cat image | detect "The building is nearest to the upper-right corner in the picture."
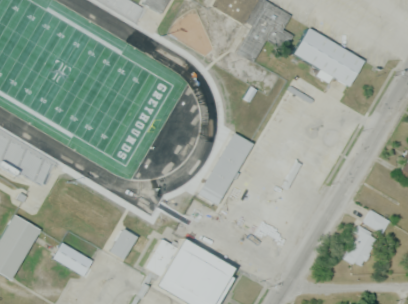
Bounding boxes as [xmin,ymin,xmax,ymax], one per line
[292,28,365,86]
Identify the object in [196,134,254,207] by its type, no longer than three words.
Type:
building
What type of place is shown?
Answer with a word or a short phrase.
sports ground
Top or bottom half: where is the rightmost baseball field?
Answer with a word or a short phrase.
top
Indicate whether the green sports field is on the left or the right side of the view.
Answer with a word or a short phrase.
left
